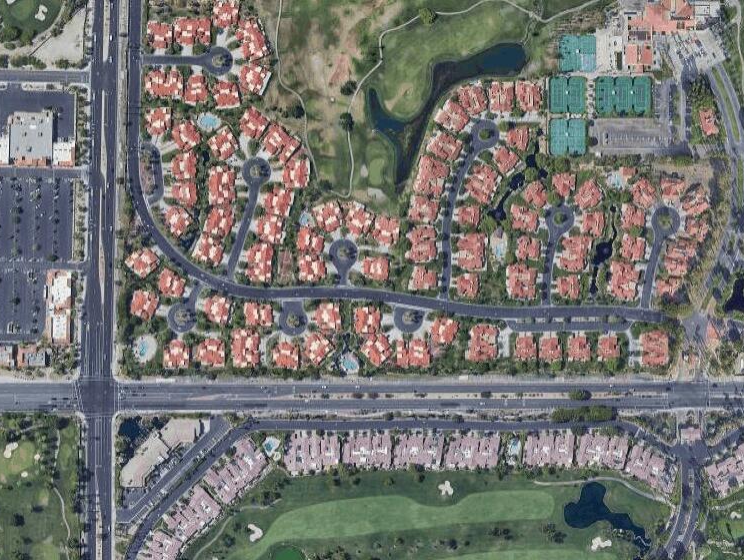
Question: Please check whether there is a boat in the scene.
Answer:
No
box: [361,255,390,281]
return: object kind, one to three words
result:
house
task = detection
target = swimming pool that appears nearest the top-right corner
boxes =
[606,171,629,189]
